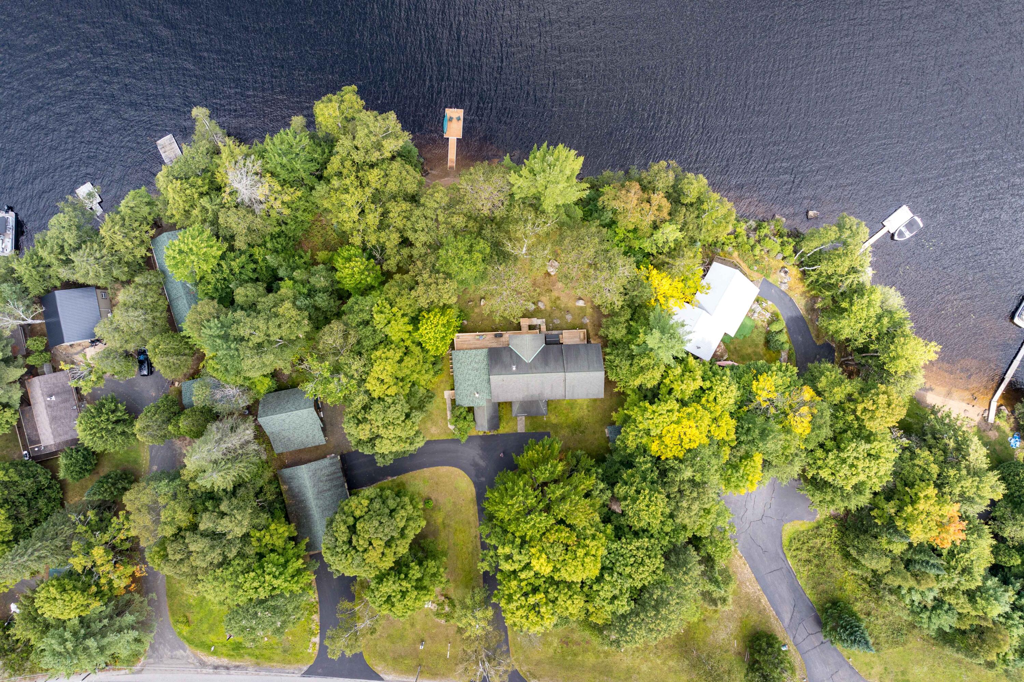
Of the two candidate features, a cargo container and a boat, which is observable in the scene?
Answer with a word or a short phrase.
boat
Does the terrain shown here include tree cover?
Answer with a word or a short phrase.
Yes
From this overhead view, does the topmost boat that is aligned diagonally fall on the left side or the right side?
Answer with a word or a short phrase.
right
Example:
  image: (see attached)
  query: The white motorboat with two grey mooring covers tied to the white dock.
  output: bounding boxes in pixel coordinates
[893,216,925,241]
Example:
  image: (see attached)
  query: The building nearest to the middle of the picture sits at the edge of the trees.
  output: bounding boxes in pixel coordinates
[449,318,604,431]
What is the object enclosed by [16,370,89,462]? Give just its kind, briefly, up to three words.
house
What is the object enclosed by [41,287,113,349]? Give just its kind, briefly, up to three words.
building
